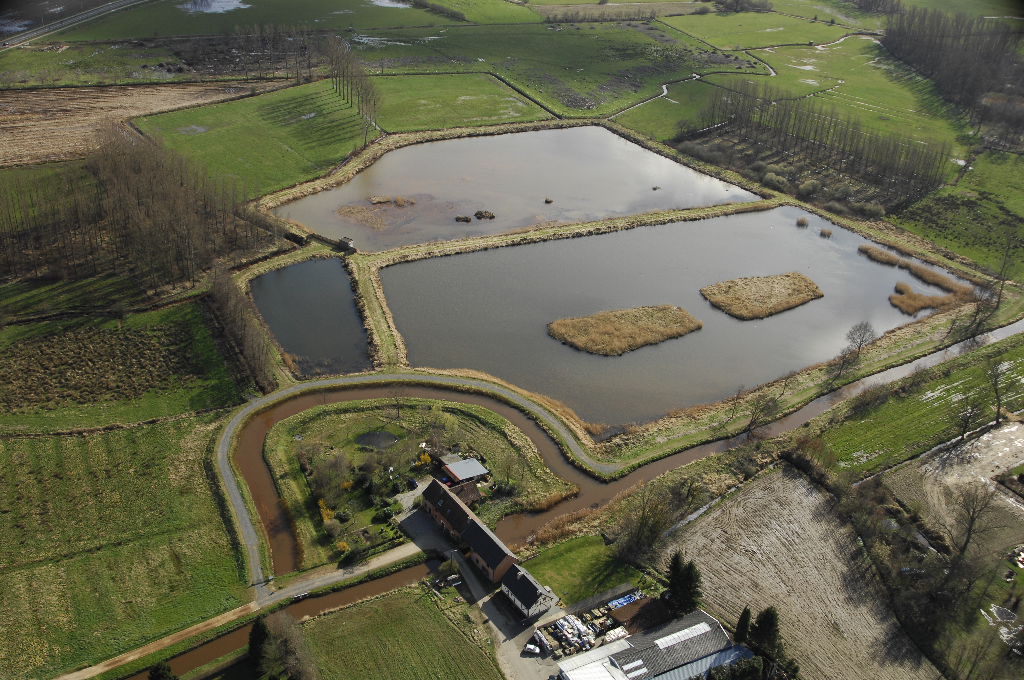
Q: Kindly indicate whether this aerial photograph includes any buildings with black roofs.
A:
Yes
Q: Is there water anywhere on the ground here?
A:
Yes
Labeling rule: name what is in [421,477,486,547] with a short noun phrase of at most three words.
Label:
house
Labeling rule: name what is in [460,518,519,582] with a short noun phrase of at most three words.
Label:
building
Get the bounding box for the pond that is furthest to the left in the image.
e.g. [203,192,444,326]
[250,258,375,376]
